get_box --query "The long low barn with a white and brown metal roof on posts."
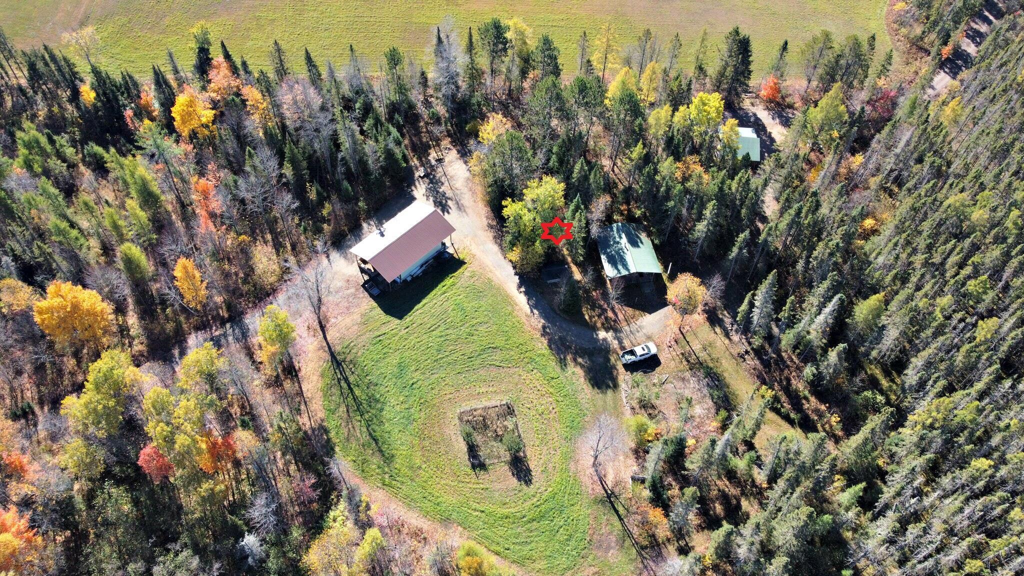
[346,202,460,292]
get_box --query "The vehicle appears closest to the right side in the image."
[620,341,658,361]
